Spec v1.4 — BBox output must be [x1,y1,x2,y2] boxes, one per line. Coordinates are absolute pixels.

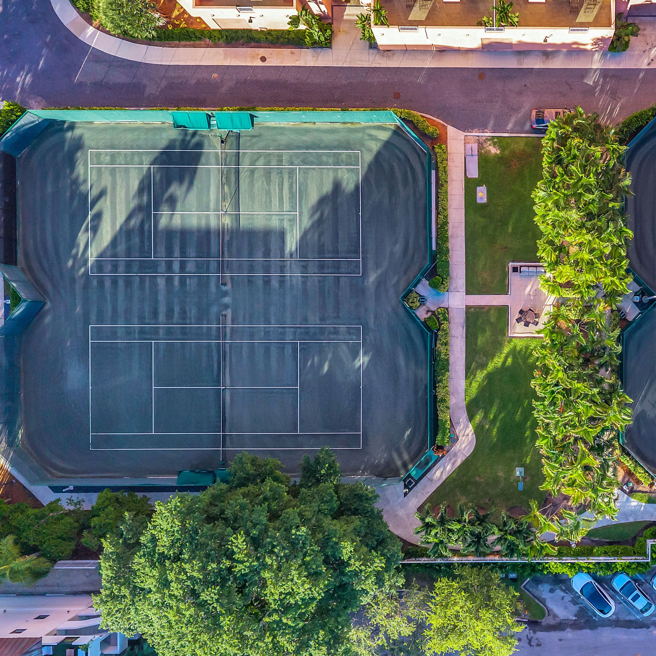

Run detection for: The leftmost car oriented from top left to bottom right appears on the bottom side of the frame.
[571,576,618,623]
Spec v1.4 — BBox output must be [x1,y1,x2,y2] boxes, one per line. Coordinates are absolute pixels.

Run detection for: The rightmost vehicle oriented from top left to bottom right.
[611,575,656,623]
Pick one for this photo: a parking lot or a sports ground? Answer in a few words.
sports ground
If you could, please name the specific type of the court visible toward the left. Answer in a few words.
tennis court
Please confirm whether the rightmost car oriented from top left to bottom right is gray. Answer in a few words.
No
